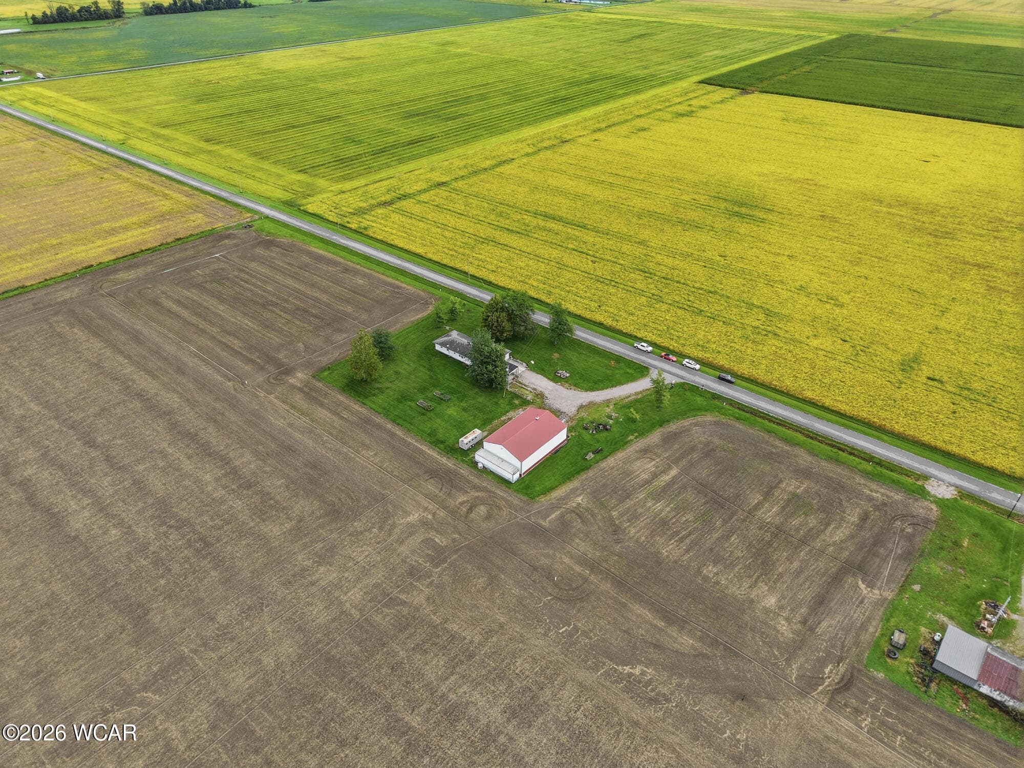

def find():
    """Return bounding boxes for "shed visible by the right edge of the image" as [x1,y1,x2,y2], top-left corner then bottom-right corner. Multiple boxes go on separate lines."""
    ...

[935,625,1024,724]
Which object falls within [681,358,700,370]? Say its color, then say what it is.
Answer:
white vehicle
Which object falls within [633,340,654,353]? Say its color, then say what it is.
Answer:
white vehicle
